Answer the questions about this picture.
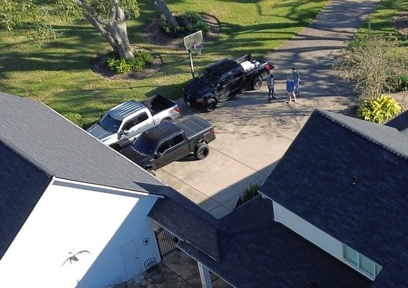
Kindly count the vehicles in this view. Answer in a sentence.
Altogether the scene contains 3 vehicles.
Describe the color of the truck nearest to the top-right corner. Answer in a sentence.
The color of the truck nearest to the top-right corner is black.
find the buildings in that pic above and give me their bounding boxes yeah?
[0,94,170,288]
[174,109,408,288]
